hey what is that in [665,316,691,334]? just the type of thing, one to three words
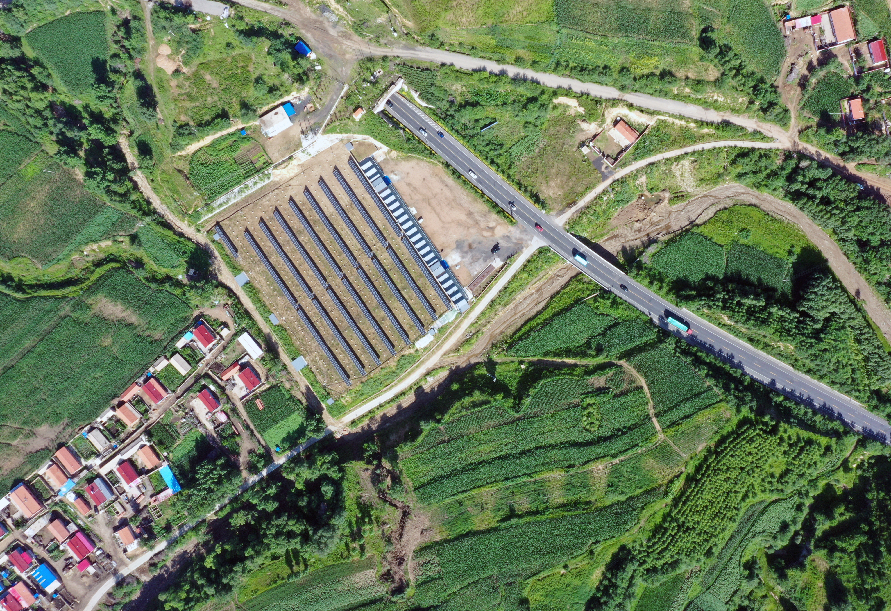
vehicle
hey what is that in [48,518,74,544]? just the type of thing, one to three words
house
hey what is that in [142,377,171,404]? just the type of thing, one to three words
house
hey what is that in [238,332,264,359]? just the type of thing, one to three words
barn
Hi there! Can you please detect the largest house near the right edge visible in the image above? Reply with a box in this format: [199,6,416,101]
[826,9,855,45]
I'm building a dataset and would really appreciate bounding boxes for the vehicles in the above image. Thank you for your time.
[492,246,500,255]
[665,316,691,334]
[620,284,629,292]
[419,127,428,136]
[509,203,519,211]
[385,99,394,108]
[535,225,544,233]
[573,254,587,266]
[468,170,477,178]
[437,131,446,138]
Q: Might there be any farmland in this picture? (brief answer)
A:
Yes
